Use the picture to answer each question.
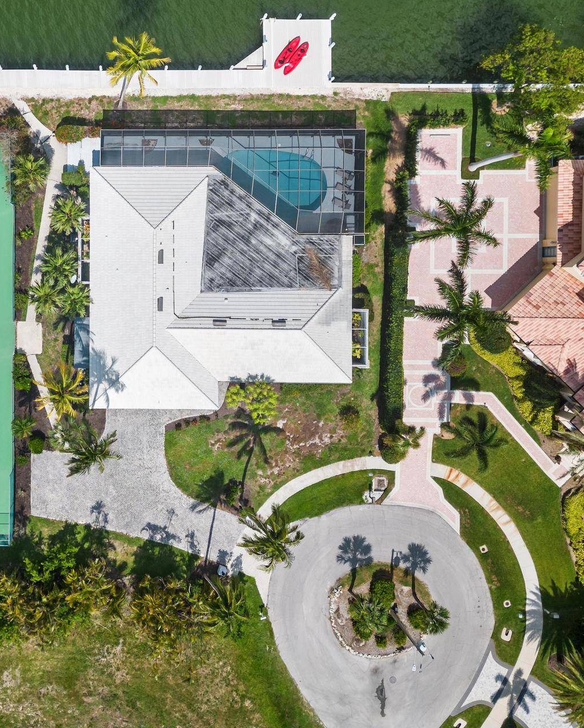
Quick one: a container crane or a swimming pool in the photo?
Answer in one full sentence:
The image shows a swimming pool.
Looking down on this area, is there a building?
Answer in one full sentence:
Yes, you can see a building in this photo.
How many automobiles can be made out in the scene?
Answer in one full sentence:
Not a single automobile can be seen.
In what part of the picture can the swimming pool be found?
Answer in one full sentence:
You can find the swimming pool in the top area of the picture.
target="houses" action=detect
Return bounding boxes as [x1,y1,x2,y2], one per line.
[89,166,353,409]
[499,160,584,449]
